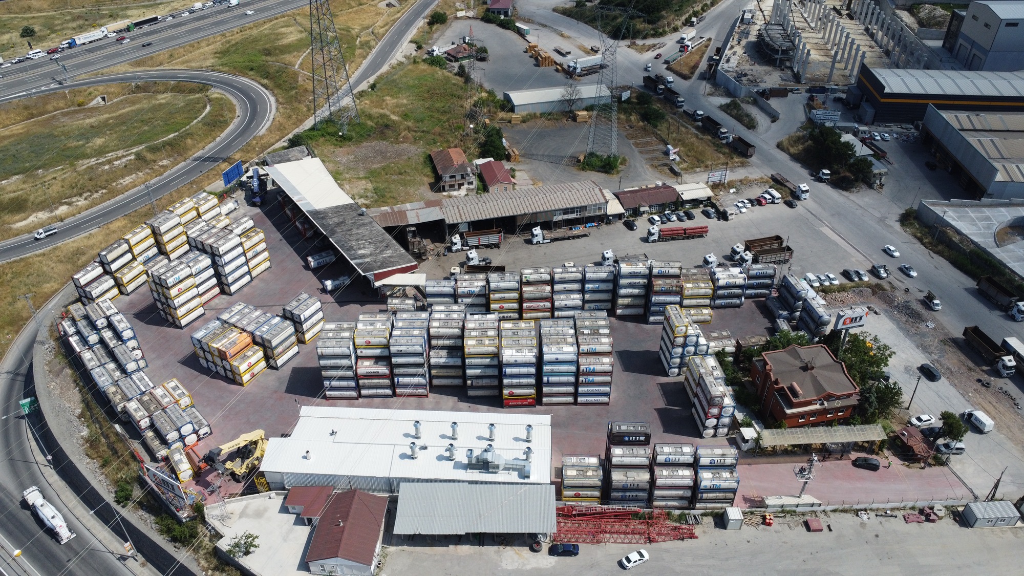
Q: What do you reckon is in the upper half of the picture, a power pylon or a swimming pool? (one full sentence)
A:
It is a power pylon that can be seen in the upper half of the picture.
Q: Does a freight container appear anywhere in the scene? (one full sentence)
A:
Yes, looking at the shot, I can spot a freight container.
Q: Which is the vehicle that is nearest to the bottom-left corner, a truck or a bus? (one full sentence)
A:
The vehicle that is nearest to the bottom-left corner can be classified as a truck.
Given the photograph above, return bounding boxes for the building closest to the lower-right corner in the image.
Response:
[961,500,1021,529]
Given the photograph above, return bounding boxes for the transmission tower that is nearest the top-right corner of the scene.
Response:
[579,0,647,157]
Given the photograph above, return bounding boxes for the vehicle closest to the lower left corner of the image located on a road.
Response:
[23,487,77,541]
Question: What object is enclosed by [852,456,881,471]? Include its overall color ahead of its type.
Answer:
black car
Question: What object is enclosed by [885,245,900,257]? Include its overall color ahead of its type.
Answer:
white vehicle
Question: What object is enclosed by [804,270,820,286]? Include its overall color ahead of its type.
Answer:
white vehicle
